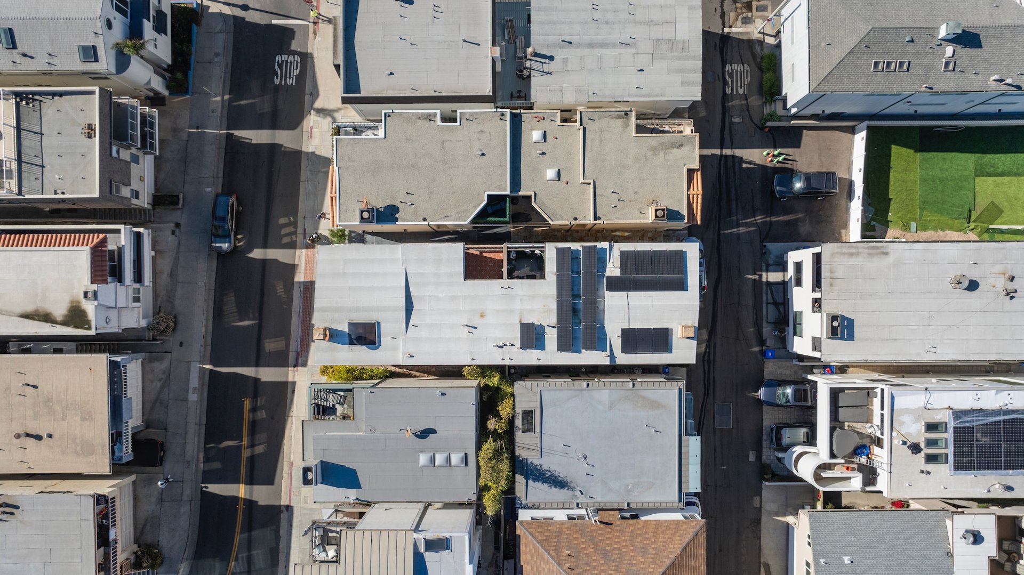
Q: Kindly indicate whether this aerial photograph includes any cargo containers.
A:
No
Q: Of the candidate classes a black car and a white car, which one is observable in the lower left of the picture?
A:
black car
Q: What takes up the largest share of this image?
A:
buildings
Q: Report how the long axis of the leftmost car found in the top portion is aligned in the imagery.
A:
vertically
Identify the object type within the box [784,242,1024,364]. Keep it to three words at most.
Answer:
house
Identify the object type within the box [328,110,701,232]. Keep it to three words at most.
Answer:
house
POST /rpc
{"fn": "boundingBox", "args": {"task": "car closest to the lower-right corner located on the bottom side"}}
[765,423,815,446]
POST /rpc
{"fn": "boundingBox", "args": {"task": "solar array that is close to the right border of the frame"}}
[951,418,1024,470]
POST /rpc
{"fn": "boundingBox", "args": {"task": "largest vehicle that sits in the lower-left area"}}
[127,438,176,467]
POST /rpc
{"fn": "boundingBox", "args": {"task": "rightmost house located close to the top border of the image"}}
[775,0,1024,115]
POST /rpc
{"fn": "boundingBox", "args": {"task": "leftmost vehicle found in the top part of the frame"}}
[210,194,242,254]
